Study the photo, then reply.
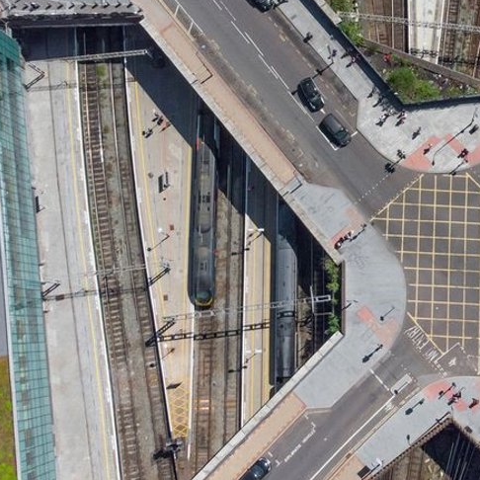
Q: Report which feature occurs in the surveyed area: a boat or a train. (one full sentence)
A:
The image shows a train.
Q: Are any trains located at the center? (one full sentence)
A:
Yes, looking at the center, one can make out a train.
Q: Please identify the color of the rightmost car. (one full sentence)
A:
The rightmost car looks black in the image.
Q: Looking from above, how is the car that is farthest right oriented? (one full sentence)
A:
From this overhead view, the car that is farthest right appears to run diagonally.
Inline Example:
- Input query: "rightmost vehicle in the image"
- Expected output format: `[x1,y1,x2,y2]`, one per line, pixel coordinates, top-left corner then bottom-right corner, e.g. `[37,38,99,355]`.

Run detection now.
[320,113,352,150]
